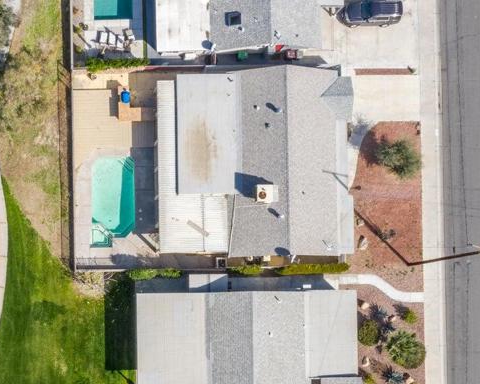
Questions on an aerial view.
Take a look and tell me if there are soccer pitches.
No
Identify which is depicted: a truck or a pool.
pool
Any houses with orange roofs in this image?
No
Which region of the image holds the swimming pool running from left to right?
top left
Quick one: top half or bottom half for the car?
top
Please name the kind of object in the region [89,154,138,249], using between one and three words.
swimming pool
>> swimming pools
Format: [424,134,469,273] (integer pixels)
[91,0,137,22]
[89,154,138,249]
